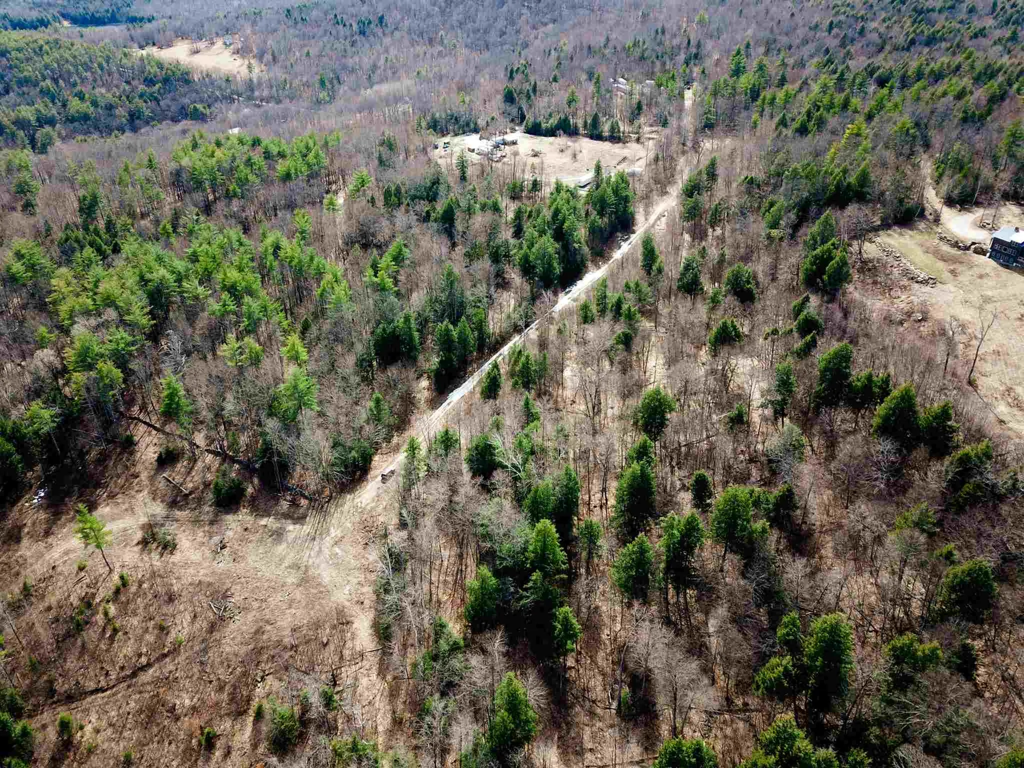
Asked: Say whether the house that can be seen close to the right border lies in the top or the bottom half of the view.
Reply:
top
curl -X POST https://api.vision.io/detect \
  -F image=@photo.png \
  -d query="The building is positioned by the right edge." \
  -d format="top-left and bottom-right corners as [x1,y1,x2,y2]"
[984,223,1024,274]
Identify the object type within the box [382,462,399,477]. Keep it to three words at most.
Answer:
vehicle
